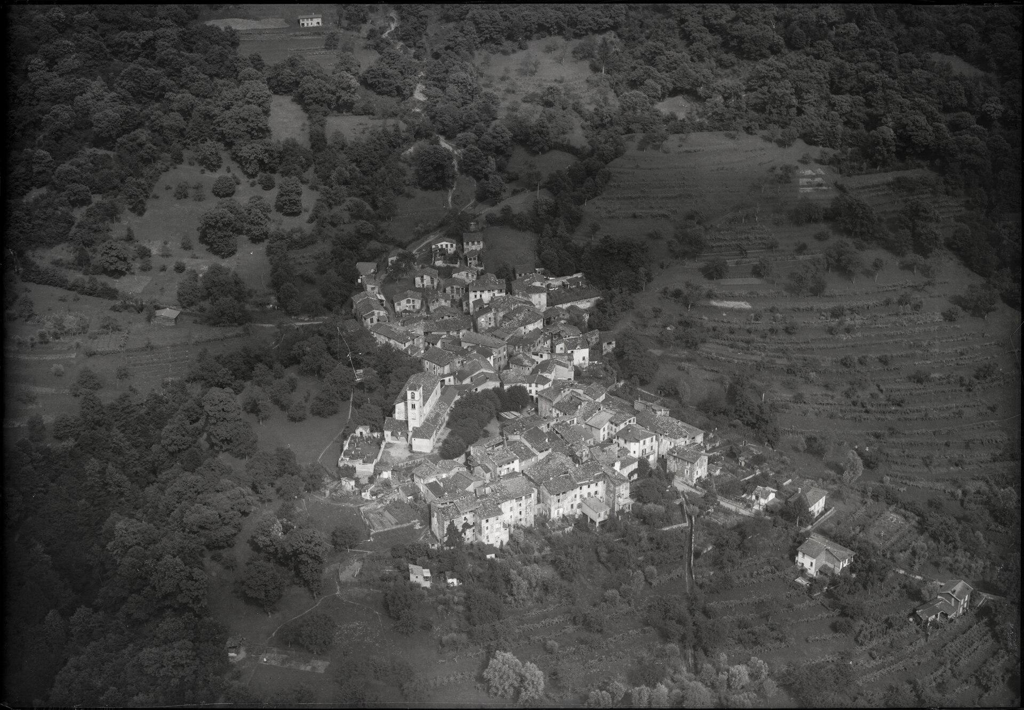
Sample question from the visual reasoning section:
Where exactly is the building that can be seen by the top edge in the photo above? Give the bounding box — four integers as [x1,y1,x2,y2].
[298,10,322,30]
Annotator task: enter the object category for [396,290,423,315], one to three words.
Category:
barn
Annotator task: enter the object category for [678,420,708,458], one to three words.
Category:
house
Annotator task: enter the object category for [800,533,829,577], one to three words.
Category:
house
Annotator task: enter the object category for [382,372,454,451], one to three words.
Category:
building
